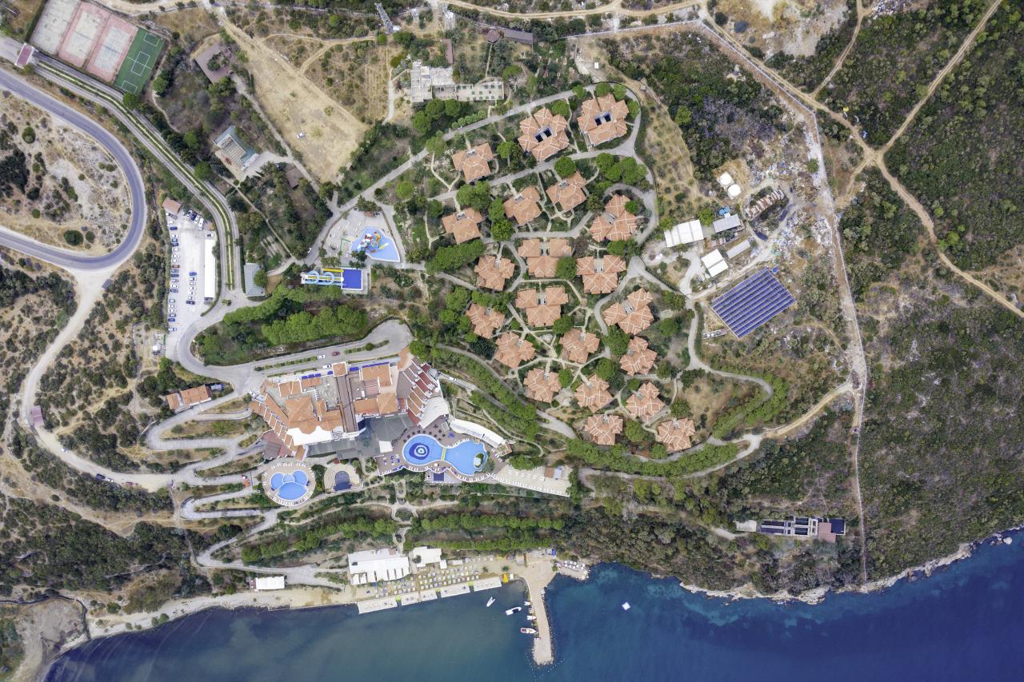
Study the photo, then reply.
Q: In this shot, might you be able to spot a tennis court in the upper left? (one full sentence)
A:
Yes, a tennis court is visible in the upper left.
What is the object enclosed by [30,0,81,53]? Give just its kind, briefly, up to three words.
sports court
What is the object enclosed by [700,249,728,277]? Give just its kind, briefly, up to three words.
building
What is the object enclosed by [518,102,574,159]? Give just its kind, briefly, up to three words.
house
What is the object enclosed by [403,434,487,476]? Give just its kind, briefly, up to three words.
swimming pool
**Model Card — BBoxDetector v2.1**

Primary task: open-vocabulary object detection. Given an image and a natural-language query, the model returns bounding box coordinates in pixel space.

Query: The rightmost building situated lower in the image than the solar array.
[736,517,844,543]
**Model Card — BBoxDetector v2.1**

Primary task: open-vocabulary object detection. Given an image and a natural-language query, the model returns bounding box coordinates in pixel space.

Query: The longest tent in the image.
[453,420,505,448]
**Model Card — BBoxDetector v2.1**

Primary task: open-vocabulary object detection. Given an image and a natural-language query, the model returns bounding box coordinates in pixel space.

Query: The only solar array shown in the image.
[711,269,794,339]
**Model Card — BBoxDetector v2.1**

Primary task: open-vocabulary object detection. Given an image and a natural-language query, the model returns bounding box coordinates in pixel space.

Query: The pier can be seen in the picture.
[517,561,556,665]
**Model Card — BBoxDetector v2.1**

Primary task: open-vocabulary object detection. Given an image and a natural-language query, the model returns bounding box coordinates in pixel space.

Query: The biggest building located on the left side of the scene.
[250,347,440,460]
